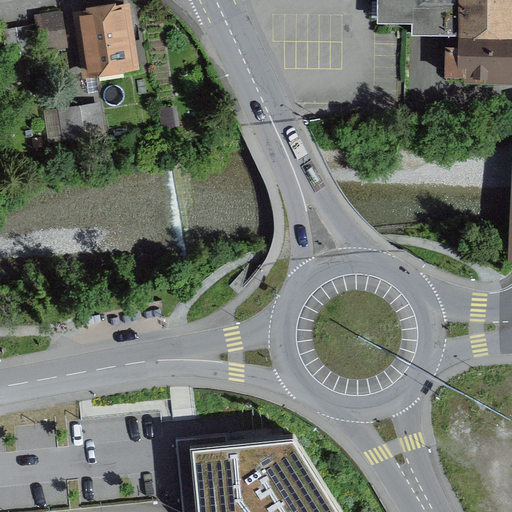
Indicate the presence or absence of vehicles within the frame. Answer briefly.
Yes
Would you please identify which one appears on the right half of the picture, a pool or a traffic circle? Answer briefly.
traffic circle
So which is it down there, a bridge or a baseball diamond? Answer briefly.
bridge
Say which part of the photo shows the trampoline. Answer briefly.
top left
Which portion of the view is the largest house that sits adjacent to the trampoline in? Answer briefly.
top left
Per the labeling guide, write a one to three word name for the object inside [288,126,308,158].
truck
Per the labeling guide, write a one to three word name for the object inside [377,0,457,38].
building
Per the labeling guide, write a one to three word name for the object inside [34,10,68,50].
shed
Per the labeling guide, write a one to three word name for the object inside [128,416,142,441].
vehicle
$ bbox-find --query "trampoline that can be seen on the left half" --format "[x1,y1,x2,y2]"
[104,84,124,106]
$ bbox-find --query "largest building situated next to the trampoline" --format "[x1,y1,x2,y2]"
[74,4,139,80]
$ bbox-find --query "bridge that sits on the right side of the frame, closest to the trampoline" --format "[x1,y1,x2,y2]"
[236,112,390,294]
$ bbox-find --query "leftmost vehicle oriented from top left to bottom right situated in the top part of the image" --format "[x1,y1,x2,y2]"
[248,100,266,121]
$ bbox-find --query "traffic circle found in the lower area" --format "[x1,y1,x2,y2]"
[270,248,445,422]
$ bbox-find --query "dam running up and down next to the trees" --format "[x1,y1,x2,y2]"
[166,170,197,262]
